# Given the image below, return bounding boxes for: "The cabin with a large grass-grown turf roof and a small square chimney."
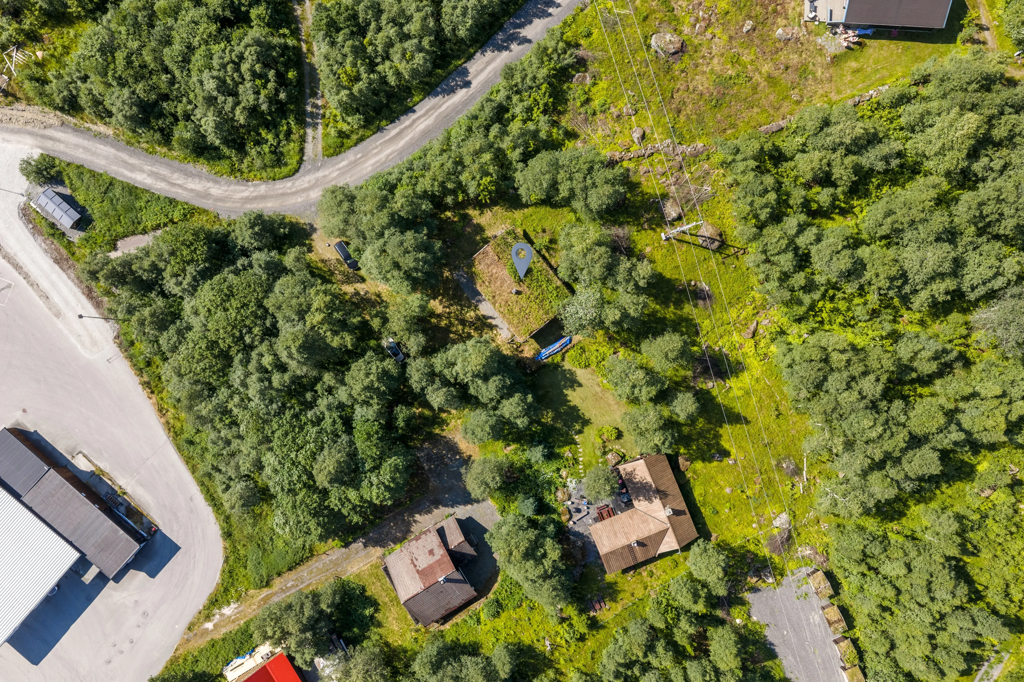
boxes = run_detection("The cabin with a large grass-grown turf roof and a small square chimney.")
[461,225,565,343]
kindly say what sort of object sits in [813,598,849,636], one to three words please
building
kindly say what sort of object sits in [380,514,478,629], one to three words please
house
